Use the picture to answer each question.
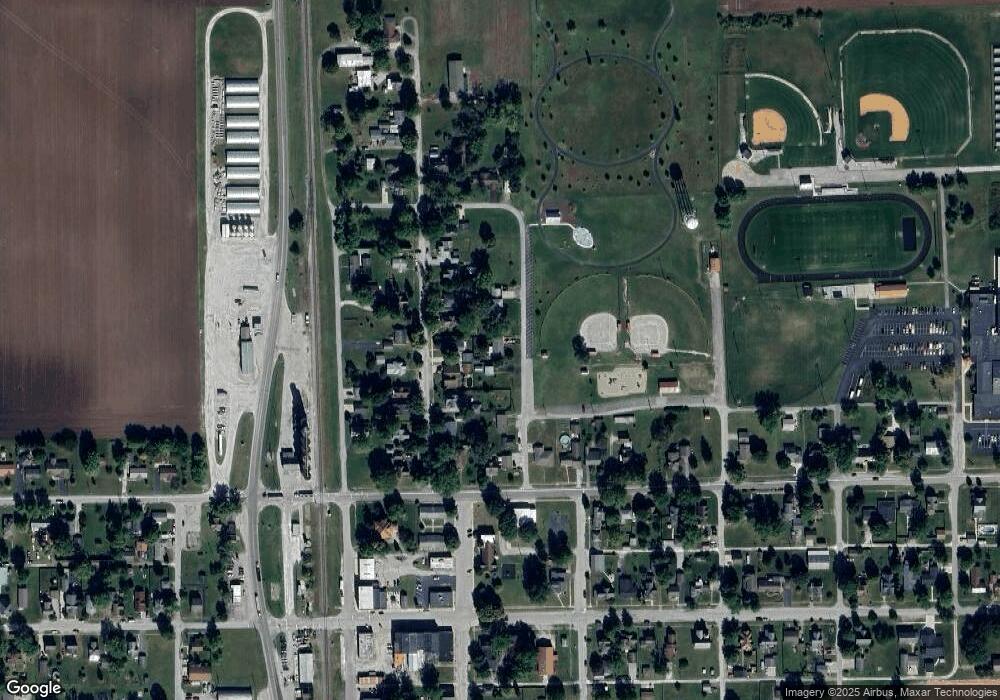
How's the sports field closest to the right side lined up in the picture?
from left to right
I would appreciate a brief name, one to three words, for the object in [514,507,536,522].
building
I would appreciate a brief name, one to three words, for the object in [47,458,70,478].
house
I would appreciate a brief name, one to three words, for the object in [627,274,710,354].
baseball field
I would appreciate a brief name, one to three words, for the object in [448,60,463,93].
barn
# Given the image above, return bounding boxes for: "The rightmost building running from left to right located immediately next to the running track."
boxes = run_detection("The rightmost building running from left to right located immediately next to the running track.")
[876,283,907,298]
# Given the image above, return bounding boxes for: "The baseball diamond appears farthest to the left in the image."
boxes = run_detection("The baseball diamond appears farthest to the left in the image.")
[539,276,619,358]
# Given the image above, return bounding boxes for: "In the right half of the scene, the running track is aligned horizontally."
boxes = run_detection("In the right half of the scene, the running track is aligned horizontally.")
[738,194,932,280]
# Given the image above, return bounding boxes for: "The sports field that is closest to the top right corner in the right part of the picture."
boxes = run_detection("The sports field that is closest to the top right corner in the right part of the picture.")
[745,203,926,272]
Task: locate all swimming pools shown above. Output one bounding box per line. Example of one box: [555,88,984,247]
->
[560,435,570,450]
[979,524,999,535]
